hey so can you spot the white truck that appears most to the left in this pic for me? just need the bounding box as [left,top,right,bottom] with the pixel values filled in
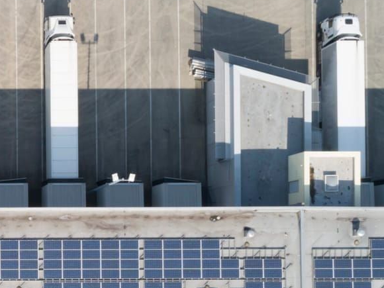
[42,17,78,182]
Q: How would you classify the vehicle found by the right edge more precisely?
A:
truck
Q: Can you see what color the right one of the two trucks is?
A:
white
